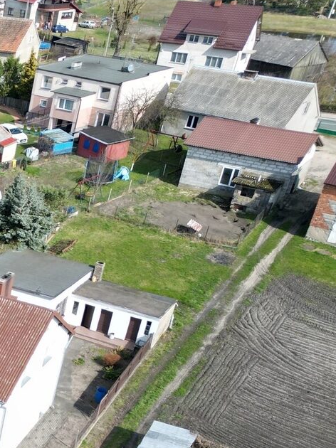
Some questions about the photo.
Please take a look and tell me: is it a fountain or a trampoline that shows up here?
trampoline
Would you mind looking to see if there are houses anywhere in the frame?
Yes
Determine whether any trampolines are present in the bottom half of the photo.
No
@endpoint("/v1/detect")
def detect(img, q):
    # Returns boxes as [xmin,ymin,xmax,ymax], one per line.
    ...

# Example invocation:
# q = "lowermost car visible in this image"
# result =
[4,125,30,141]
